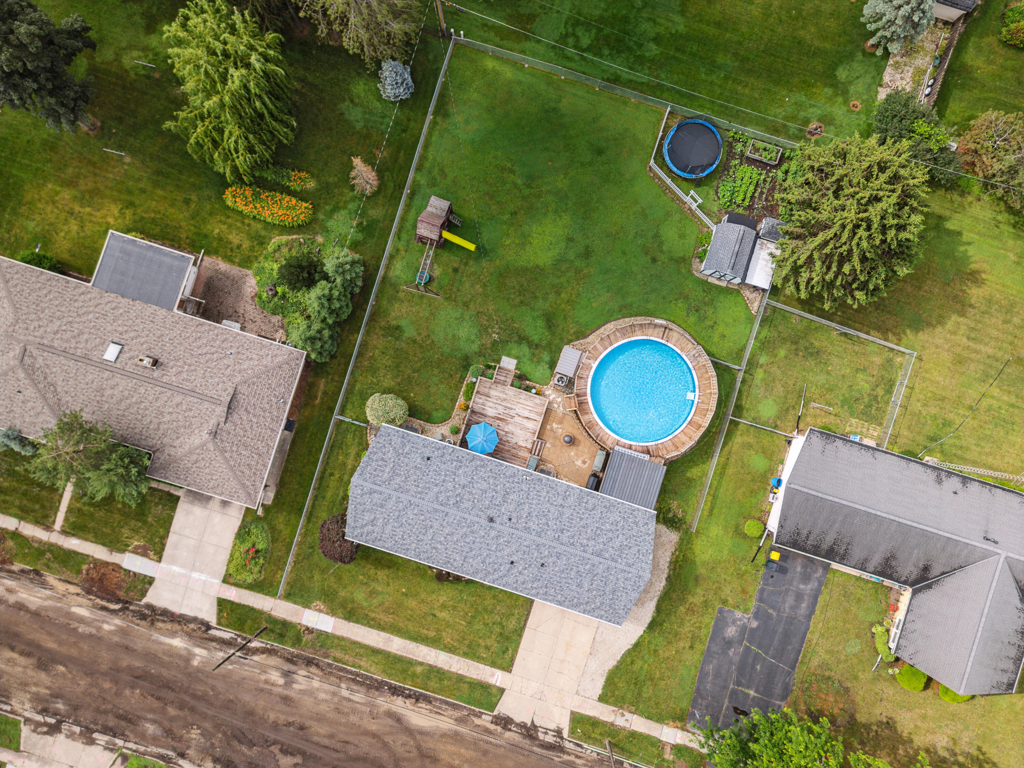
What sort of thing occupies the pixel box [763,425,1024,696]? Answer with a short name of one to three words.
house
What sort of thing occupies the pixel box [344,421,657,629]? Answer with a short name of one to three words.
house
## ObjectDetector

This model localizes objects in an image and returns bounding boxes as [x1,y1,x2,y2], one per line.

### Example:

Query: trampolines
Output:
[662,113,727,186]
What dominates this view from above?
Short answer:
grass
